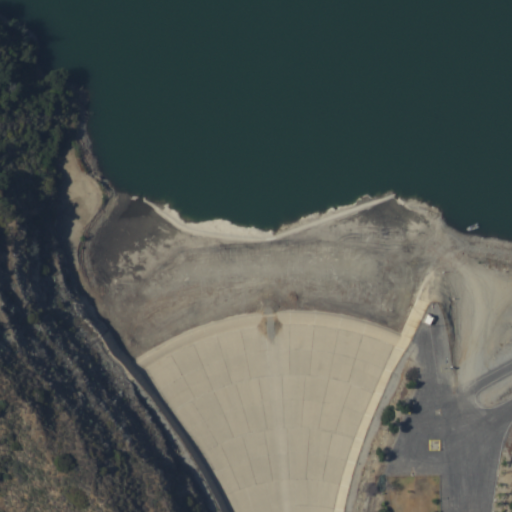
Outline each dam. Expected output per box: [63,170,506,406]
[60,282,430,512]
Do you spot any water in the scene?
Yes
